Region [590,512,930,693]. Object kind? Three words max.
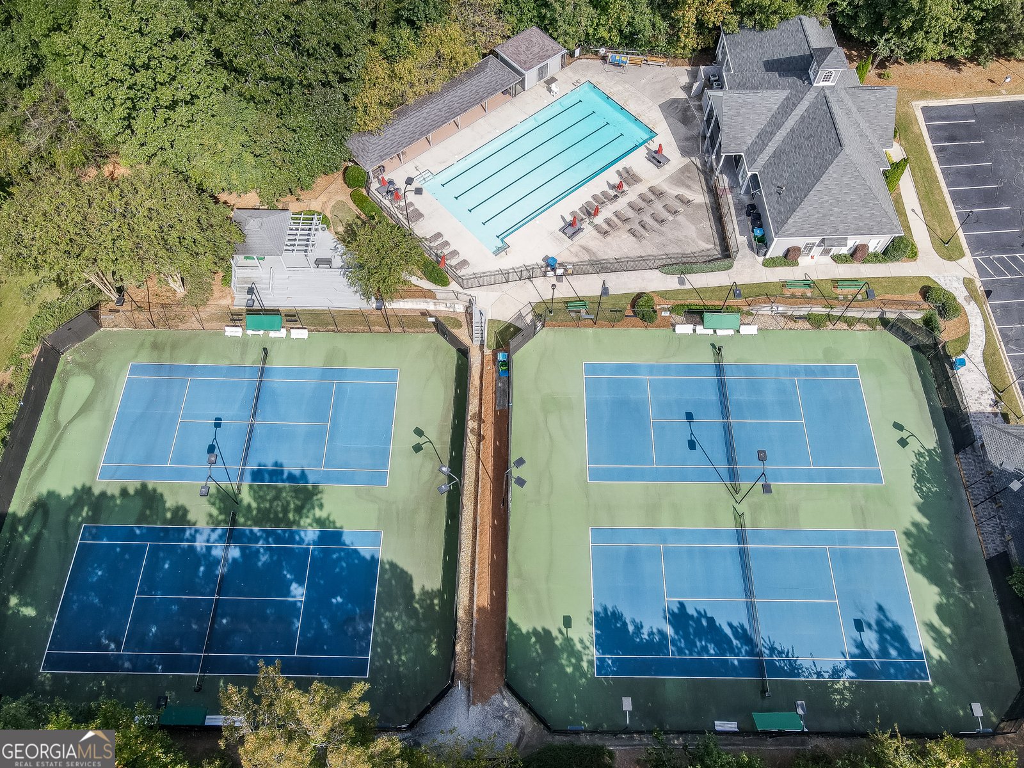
tennis court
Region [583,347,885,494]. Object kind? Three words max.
tennis court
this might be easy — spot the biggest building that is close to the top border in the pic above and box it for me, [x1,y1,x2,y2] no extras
[700,22,905,257]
